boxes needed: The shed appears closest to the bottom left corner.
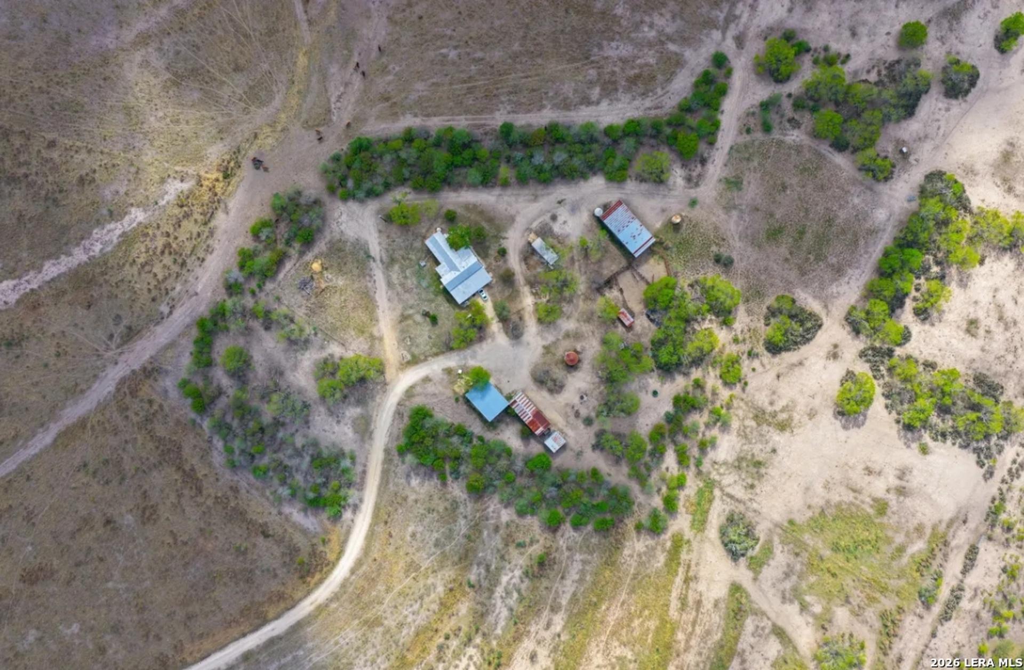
[465,380,509,421]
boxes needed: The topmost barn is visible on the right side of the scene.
[599,200,656,257]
